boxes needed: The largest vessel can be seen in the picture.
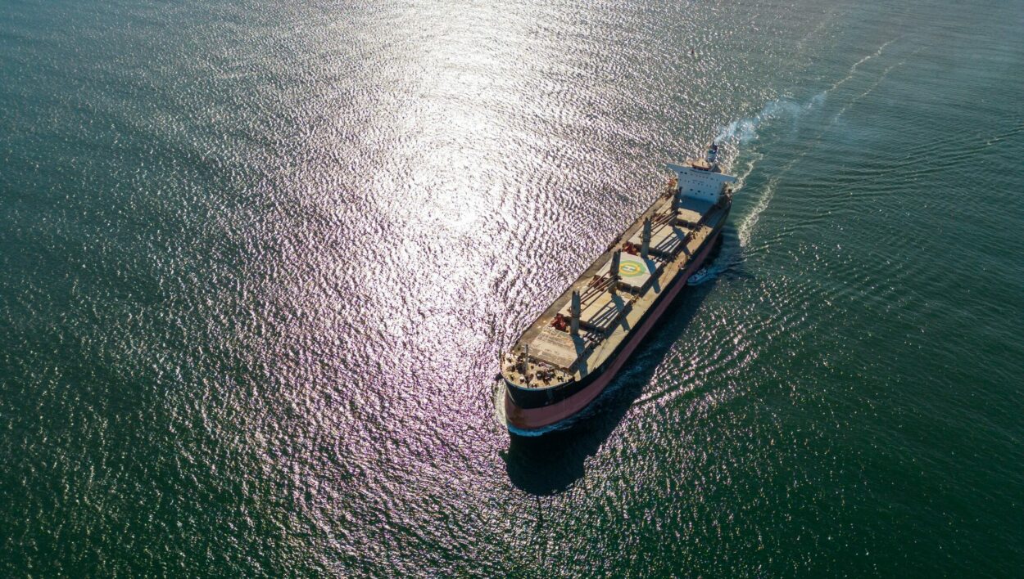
[493,141,739,425]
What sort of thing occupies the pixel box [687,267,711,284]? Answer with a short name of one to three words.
boat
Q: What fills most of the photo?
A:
water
